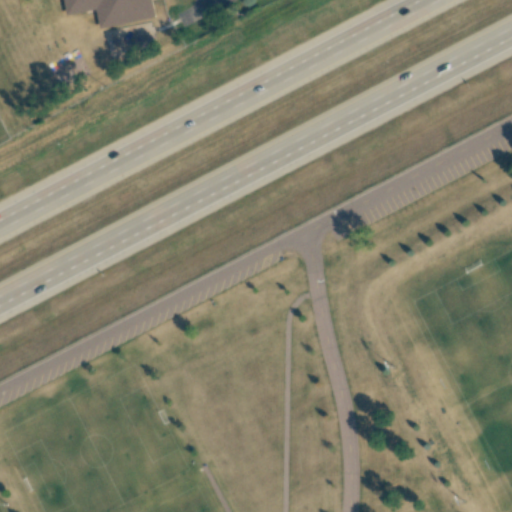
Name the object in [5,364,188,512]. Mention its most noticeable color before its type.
green soccer field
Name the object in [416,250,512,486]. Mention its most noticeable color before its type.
green soccer field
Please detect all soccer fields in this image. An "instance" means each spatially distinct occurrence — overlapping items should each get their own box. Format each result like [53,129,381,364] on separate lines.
[416,250,512,486]
[5,364,188,512]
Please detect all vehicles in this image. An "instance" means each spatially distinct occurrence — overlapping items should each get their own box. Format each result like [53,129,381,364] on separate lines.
[34,284,46,292]
[400,72,410,80]
[437,62,451,72]
[398,7,410,16]
[108,150,119,158]
[254,84,265,92]
[184,119,196,128]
